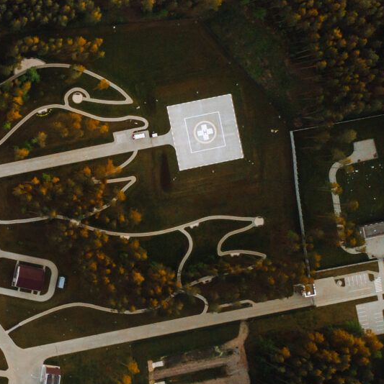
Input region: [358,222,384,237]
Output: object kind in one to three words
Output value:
building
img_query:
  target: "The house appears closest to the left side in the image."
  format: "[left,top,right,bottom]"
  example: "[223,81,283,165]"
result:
[12,264,44,292]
